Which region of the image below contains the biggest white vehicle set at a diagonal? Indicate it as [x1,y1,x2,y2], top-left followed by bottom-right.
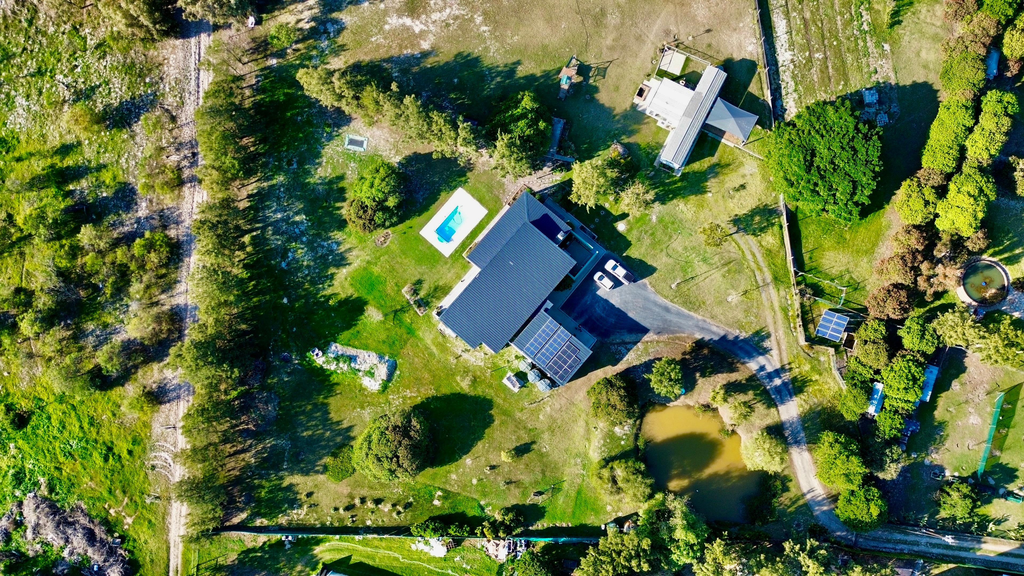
[605,258,635,289]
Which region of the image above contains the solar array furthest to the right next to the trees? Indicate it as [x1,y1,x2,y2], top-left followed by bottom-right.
[815,310,849,341]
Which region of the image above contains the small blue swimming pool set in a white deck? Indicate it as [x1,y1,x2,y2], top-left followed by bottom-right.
[419,188,488,258]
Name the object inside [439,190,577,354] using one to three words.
house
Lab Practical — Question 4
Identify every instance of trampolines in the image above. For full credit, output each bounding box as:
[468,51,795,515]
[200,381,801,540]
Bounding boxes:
[345,134,368,151]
